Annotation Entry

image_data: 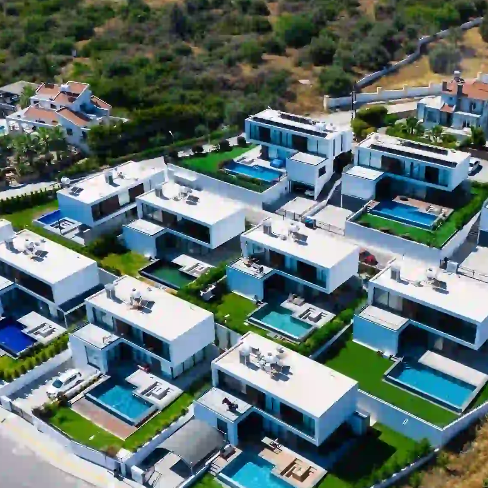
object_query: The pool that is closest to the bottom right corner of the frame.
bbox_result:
[379,350,488,416]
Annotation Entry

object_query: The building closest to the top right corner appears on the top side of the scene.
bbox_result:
[412,78,488,132]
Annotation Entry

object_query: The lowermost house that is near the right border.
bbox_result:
[349,259,488,355]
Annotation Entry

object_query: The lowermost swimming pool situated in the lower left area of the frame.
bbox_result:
[79,368,184,431]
